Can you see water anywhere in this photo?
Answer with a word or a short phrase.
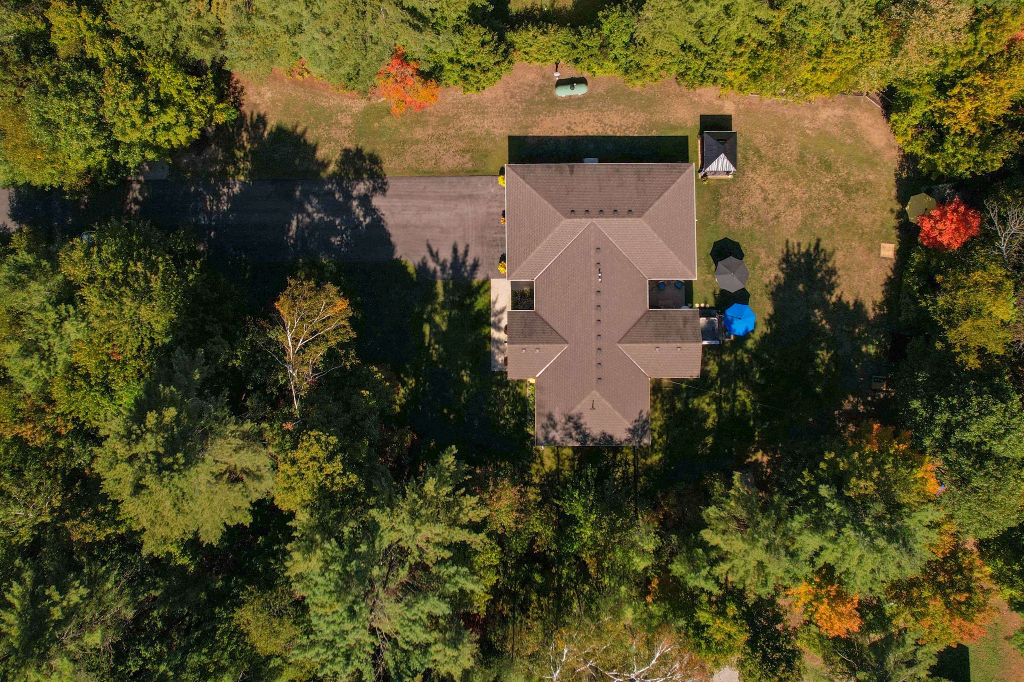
No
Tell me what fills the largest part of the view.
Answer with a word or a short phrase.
trees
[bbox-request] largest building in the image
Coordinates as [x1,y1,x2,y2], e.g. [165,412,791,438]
[503,161,704,452]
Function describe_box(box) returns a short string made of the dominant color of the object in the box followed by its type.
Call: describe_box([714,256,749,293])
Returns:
gray umbrella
